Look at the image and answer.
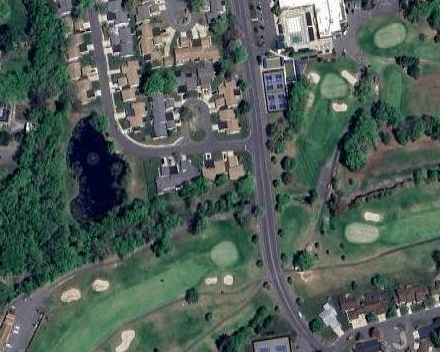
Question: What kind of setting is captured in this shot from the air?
golf course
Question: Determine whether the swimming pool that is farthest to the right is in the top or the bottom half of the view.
top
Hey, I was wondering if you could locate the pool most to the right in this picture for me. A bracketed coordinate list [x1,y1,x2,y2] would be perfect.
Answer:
[284,16,307,48]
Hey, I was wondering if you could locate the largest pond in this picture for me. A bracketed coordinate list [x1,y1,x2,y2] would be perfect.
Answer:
[67,114,130,225]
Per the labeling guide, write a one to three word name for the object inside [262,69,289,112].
sports court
